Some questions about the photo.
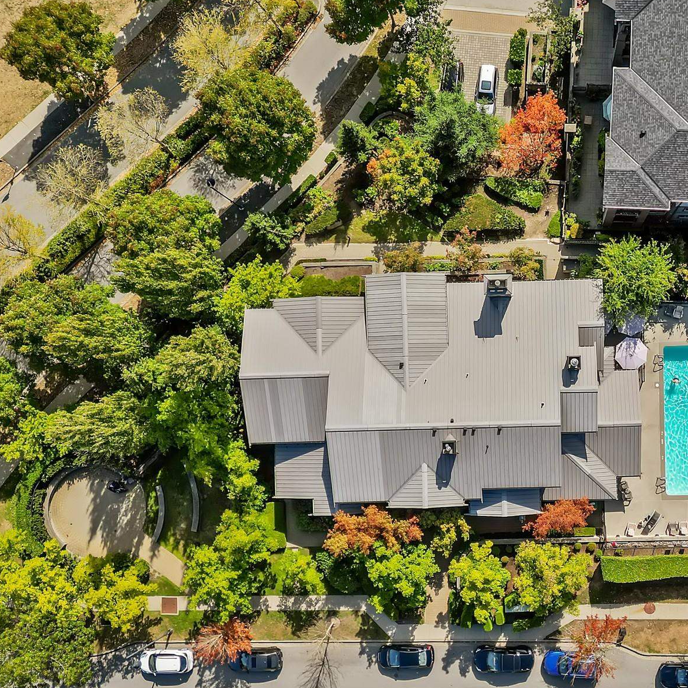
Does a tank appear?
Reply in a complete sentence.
No, no tank is visible in the view.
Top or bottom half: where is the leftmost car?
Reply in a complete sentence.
The bottom half of the photo is where the leftmost car is.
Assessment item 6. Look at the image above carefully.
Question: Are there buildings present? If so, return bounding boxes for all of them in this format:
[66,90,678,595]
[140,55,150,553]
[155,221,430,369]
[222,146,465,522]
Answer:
[600,0,688,228]
[240,271,642,517]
